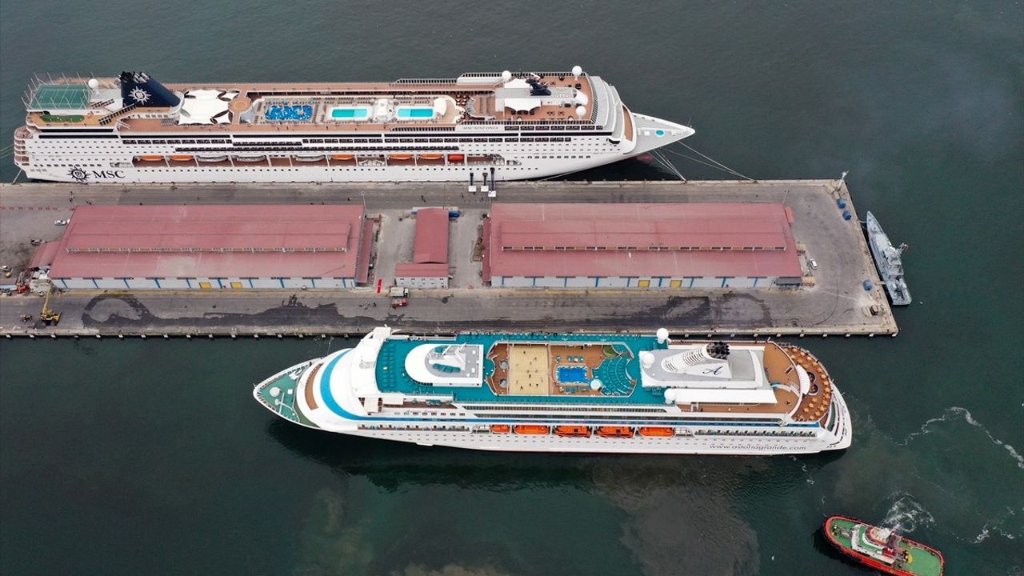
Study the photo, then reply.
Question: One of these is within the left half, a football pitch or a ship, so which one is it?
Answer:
ship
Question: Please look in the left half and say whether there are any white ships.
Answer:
Yes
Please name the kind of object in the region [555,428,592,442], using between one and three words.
boat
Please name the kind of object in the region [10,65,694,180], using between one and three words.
ship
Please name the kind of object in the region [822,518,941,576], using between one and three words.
boat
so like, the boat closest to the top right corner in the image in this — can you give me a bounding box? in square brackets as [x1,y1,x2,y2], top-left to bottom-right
[865,212,913,311]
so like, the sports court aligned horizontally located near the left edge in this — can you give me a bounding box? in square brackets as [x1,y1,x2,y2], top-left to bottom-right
[20,72,101,111]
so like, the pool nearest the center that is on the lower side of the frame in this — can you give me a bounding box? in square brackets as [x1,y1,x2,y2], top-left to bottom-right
[555,365,591,386]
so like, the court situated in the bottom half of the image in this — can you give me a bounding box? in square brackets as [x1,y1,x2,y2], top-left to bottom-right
[508,350,549,392]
